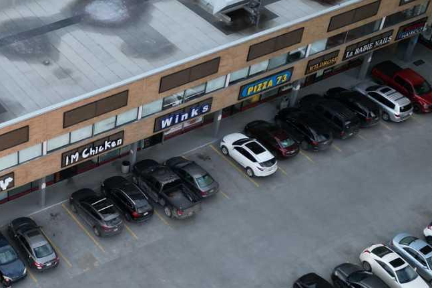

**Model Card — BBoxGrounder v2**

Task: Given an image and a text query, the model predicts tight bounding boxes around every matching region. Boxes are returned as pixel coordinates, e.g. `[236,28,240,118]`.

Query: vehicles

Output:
[223,133,284,177]
[8,217,64,271]
[0,233,26,286]
[278,109,336,152]
[72,189,129,240]
[134,159,204,220]
[300,96,367,144]
[392,231,432,286]
[167,152,225,199]
[329,261,389,288]
[371,62,432,113]
[328,89,387,130]
[360,243,431,288]
[352,81,414,123]
[103,176,161,226]
[249,121,307,164]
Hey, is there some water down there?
No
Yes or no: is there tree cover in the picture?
No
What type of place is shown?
parking lot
